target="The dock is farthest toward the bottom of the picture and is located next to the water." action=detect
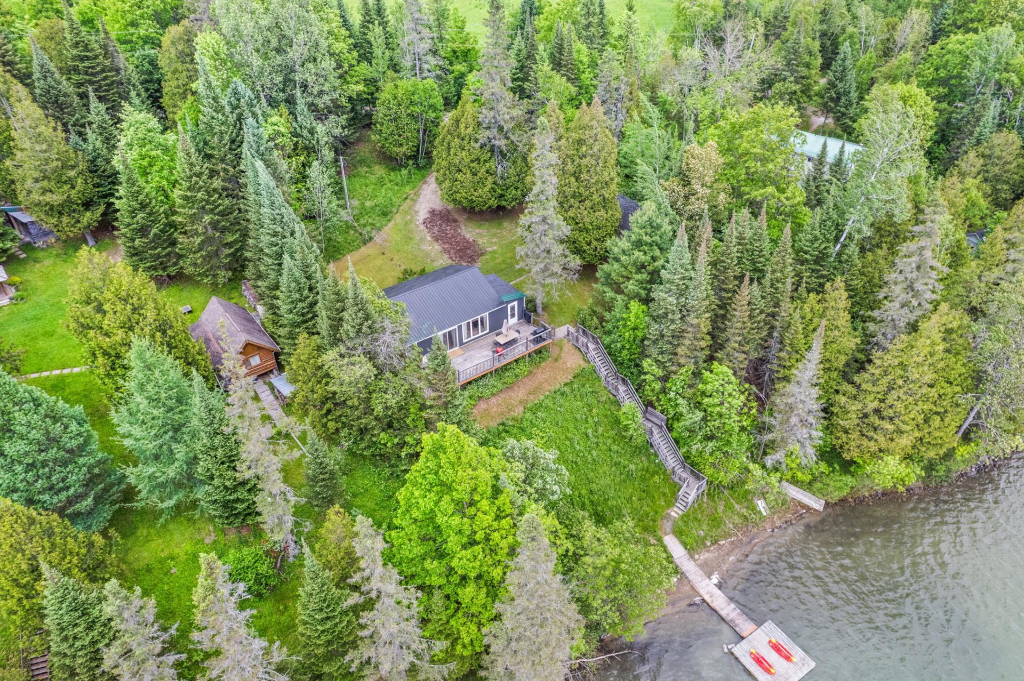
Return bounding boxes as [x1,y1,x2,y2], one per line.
[729,620,816,681]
